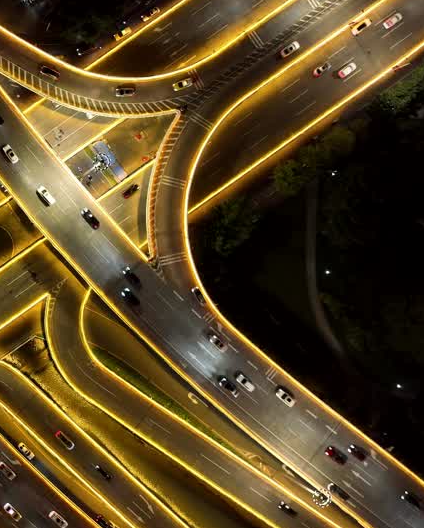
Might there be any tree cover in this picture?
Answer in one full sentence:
Yes, there's tree cover in this view.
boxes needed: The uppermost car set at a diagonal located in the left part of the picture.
[144,3,162,19]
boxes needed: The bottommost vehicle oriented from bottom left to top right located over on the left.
[121,183,140,198]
